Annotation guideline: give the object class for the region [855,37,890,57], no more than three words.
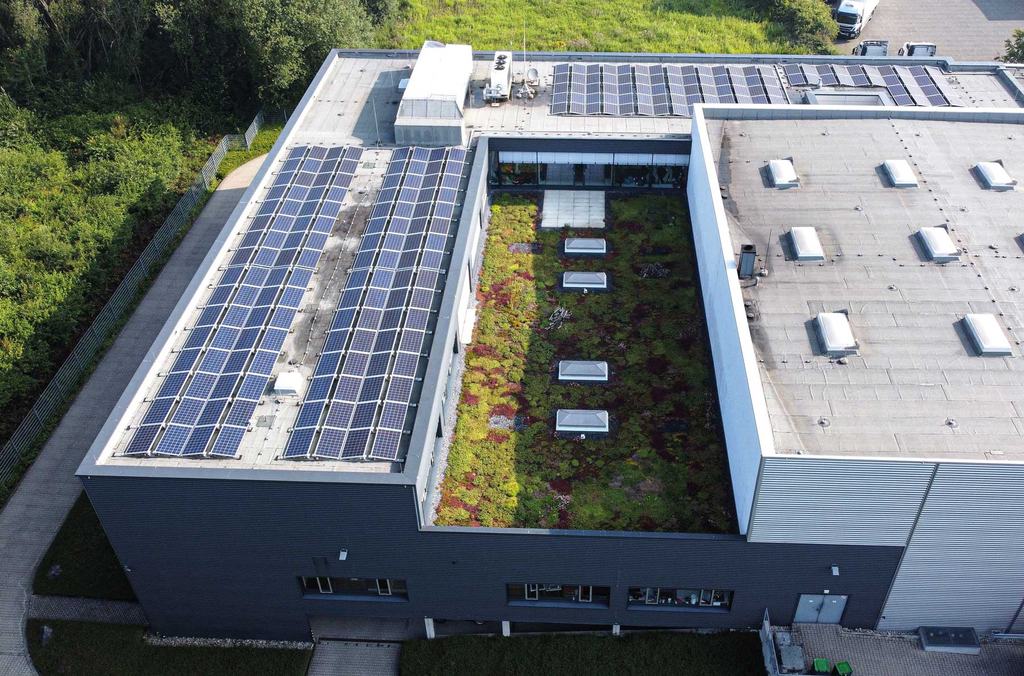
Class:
vehicle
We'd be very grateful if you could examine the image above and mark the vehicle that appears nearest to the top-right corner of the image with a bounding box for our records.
[900,41,936,57]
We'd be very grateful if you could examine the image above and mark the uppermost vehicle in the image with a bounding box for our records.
[837,0,882,35]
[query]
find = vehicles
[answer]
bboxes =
[855,37,890,57]
[900,41,936,57]
[837,0,882,35]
